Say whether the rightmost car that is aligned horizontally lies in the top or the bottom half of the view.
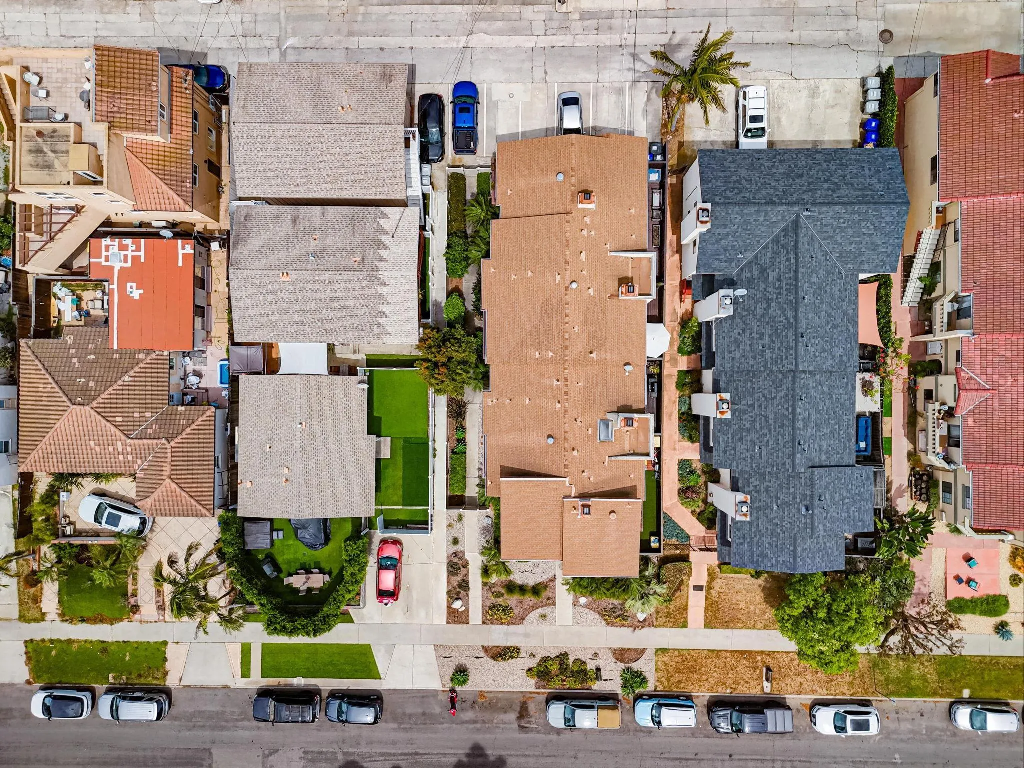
bottom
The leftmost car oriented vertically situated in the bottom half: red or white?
red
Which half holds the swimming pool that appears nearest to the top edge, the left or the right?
left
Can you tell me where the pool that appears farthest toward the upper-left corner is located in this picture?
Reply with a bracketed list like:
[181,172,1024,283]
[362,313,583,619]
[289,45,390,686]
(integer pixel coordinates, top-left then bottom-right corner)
[215,360,235,388]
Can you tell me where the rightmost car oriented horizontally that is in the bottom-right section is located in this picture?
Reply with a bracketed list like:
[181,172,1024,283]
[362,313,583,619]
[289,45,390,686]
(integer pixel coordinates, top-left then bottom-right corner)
[948,702,1020,735]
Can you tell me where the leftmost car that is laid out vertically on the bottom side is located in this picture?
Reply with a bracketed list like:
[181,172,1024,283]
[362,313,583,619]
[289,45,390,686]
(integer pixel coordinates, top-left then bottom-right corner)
[374,538,404,605]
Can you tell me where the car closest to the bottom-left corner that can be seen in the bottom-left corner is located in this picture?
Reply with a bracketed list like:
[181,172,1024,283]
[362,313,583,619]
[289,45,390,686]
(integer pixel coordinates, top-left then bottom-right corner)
[33,689,96,721]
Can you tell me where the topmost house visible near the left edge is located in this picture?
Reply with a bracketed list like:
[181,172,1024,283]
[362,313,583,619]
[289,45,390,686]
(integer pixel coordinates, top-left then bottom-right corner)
[0,44,216,281]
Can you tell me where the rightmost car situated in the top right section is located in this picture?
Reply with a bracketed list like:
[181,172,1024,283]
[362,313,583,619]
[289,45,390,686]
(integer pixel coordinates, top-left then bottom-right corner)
[735,85,768,149]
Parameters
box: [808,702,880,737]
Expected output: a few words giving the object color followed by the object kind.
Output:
white car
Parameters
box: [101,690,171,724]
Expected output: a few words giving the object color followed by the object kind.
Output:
white car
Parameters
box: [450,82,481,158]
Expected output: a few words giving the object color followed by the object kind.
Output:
blue truck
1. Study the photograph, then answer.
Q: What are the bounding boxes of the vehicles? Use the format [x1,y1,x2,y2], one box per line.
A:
[547,697,620,731]
[254,693,322,726]
[808,702,880,737]
[417,94,447,165]
[709,702,793,737]
[634,697,697,730]
[33,689,96,721]
[167,62,232,95]
[326,695,384,728]
[735,85,768,149]
[556,87,586,136]
[374,538,404,605]
[450,82,481,158]
[948,702,1020,735]
[81,494,159,537]
[448,687,457,716]
[101,690,171,724]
